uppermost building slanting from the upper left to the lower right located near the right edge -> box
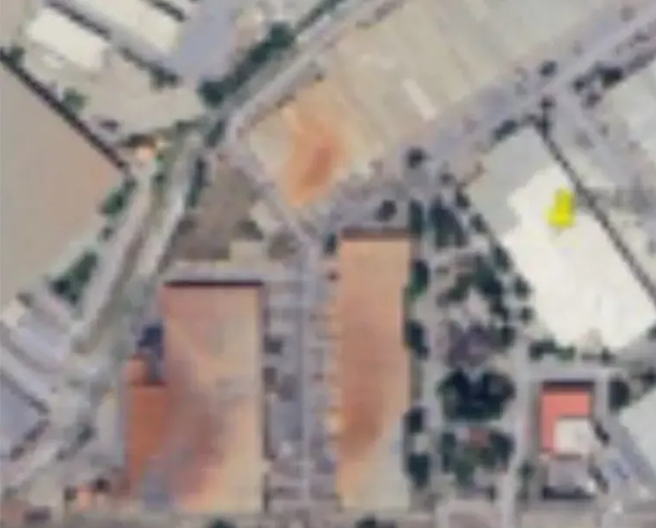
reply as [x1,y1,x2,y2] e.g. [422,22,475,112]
[467,128,656,353]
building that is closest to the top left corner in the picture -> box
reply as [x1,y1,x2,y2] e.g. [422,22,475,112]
[24,2,111,69]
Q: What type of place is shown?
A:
industrial area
